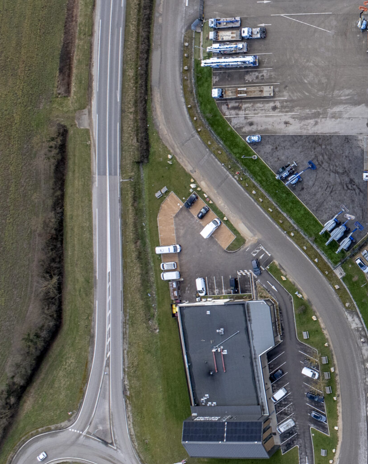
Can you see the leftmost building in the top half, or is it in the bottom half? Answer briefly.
bottom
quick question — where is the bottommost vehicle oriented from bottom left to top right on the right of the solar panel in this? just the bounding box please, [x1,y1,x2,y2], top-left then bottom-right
[277,418,296,434]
